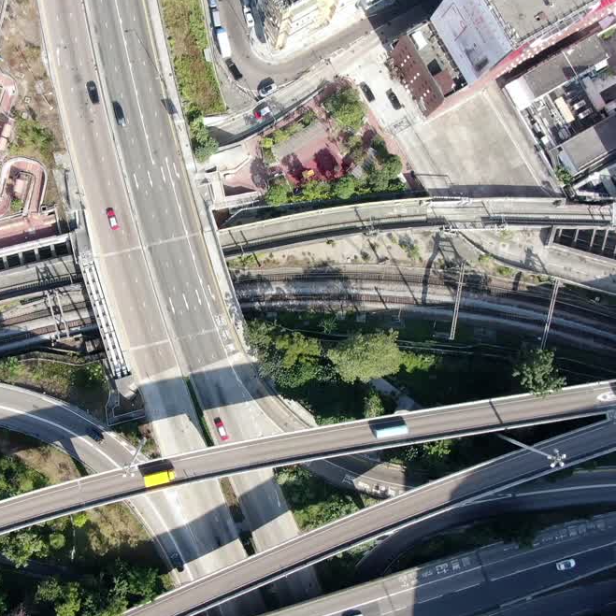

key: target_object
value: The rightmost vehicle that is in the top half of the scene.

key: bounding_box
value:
[386,86,403,110]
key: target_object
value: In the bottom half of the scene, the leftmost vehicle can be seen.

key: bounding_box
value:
[84,425,106,444]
